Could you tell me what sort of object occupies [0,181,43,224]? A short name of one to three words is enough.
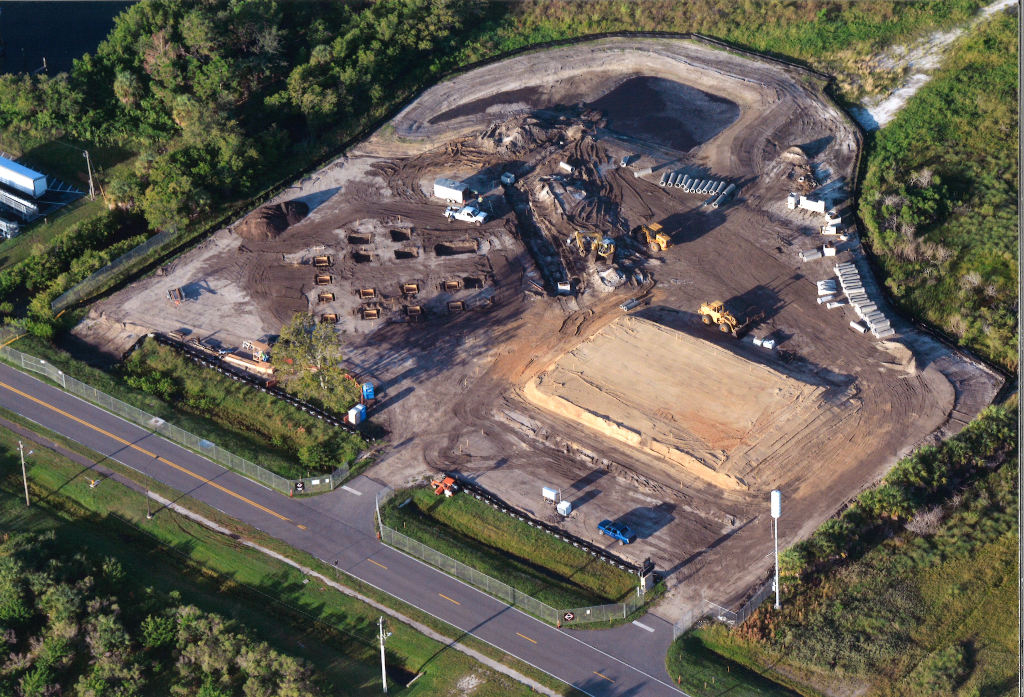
trailer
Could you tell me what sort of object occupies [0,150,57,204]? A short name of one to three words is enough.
trailer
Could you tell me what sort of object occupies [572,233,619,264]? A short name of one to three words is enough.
work vehicle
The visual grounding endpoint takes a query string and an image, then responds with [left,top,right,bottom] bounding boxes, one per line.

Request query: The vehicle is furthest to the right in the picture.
[698,300,756,339]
